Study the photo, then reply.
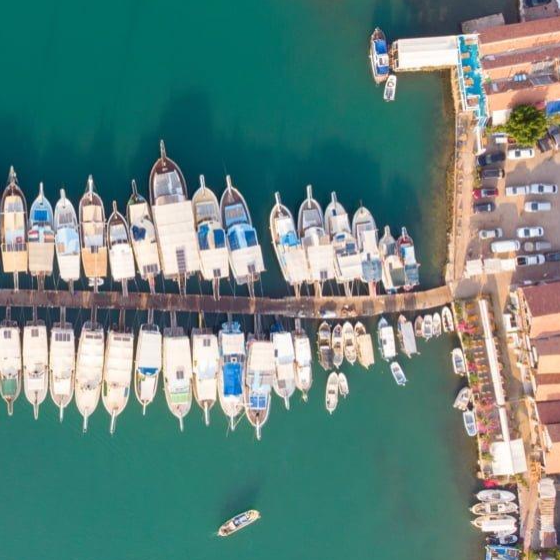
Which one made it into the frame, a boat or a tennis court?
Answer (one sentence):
Looking from above, you can make out a boat.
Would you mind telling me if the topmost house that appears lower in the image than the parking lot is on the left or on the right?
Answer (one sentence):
The topmost house that appears lower in the image than the parking lot sits on the right side.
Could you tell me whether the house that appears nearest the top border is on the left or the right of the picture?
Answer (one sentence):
The house that appears nearest the top border appears in the right half of the scene.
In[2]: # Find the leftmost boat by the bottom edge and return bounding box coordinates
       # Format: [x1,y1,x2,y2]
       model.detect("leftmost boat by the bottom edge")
[218,512,259,536]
